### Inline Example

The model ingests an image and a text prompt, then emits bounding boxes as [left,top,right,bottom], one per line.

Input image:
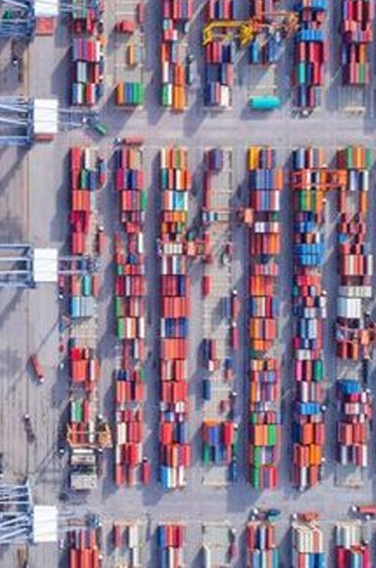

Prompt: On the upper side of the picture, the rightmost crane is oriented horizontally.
[289,168,349,192]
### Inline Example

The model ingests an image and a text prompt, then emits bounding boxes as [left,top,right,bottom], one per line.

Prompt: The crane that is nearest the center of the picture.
[156,238,209,260]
